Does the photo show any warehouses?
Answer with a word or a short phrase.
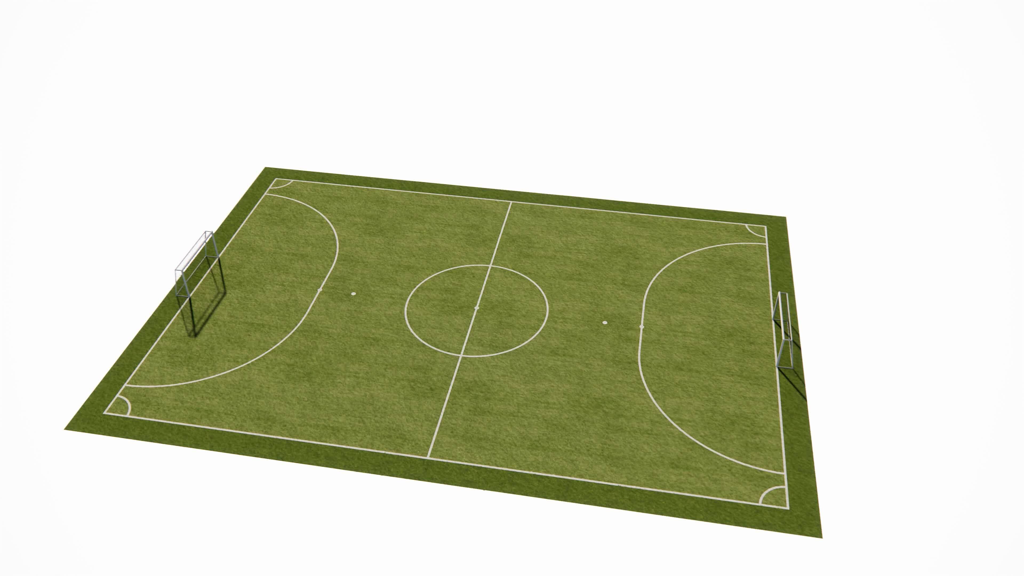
No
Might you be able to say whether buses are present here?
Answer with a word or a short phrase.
No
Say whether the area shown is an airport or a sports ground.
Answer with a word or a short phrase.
sports ground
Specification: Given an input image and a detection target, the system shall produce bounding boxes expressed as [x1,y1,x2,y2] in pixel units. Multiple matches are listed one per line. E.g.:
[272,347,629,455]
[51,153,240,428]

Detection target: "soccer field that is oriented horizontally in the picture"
[64,167,823,539]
